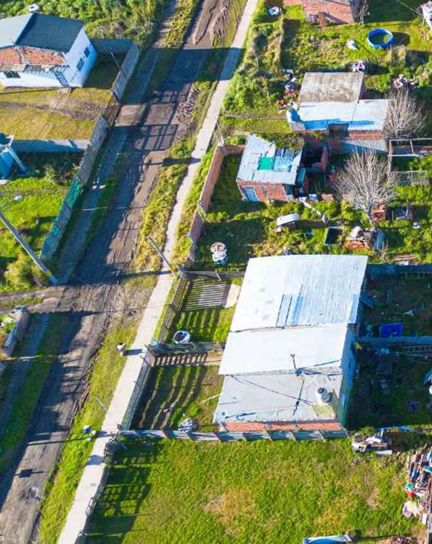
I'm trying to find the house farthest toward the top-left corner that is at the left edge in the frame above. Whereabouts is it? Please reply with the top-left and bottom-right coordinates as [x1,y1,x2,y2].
[0,13,101,88]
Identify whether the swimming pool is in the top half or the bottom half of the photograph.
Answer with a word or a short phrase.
top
